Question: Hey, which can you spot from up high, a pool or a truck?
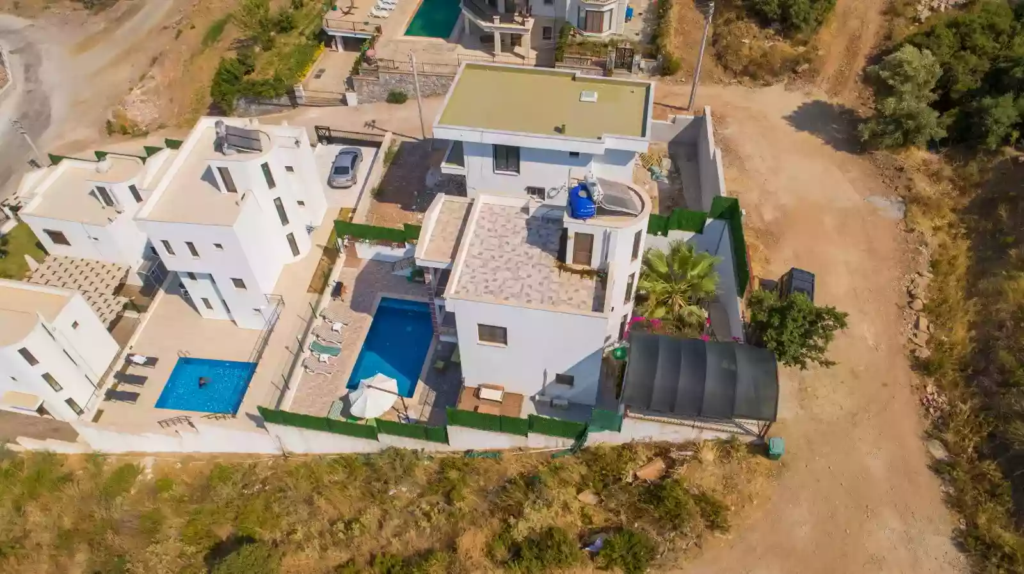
pool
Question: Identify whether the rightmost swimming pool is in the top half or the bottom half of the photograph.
top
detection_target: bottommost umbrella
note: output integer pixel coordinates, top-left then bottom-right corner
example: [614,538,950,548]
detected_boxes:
[350,376,414,425]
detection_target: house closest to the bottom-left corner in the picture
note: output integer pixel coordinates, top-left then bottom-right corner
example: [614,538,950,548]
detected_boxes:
[0,273,121,419]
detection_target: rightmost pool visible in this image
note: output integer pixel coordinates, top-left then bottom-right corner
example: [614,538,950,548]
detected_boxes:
[409,0,472,40]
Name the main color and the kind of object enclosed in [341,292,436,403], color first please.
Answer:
blue swimming pool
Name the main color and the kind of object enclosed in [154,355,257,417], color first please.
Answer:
blue swimming pool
